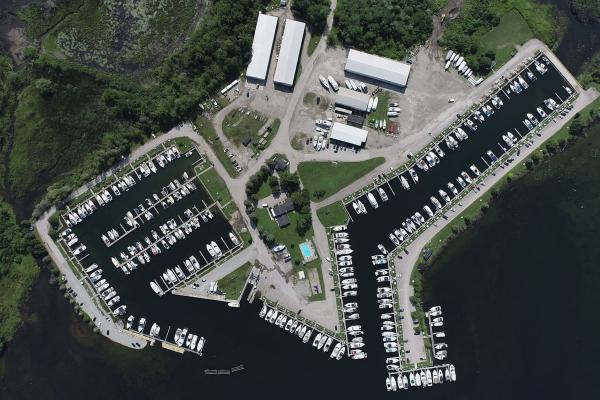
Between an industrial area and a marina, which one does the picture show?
marina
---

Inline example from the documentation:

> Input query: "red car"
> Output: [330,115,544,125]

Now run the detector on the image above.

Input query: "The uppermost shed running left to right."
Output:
[345,49,410,87]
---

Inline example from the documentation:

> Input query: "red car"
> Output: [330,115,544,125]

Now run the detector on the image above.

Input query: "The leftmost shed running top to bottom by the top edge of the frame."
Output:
[247,13,278,81]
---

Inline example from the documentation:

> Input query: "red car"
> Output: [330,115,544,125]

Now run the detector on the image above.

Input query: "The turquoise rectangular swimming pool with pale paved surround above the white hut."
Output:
[299,240,318,262]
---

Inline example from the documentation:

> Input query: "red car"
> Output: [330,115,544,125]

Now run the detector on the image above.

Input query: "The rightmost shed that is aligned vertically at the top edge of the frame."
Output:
[274,19,305,86]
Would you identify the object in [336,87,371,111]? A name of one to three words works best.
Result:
building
